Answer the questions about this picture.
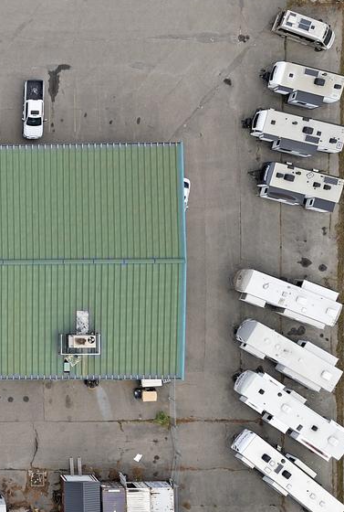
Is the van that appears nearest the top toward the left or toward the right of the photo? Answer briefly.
right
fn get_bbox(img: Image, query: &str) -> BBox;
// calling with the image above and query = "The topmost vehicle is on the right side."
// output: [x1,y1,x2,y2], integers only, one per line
[267,11,331,53]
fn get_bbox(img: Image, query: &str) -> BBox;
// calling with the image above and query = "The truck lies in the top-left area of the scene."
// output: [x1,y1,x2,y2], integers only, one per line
[21,79,46,141]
